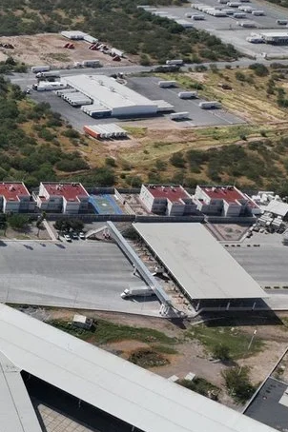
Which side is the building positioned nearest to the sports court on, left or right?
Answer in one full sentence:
The building positioned nearest to the sports court appears in the left half of the scene.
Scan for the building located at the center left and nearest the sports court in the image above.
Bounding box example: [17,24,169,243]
[37,181,97,215]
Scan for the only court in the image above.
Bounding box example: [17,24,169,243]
[90,191,124,215]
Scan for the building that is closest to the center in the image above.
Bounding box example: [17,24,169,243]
[136,184,200,217]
